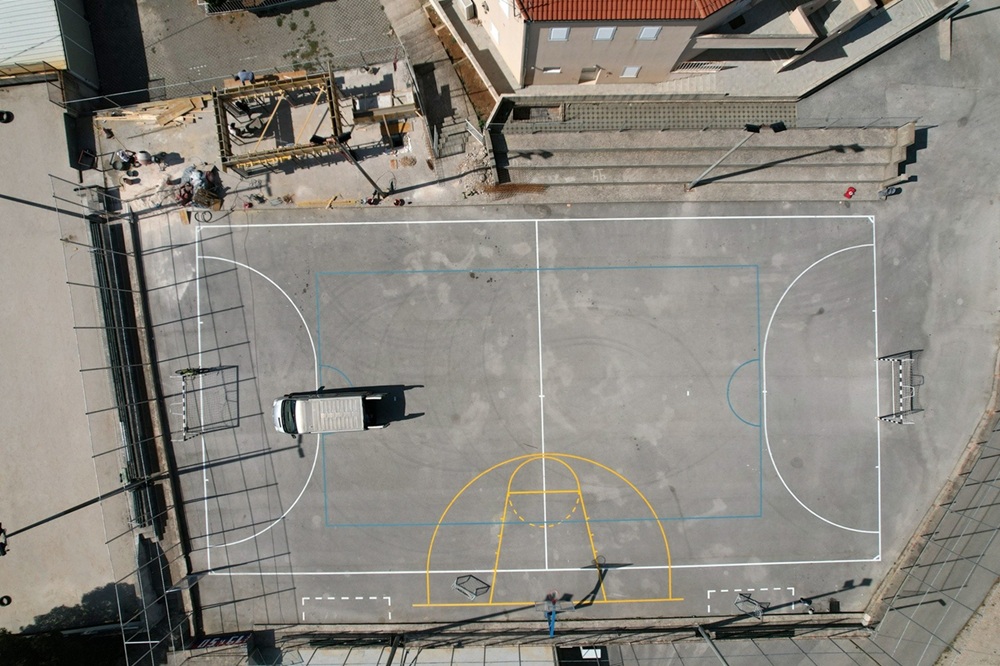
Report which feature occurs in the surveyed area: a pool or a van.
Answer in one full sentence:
There is a van in the scene.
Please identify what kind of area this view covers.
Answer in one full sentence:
The area seen from above is a sports ground.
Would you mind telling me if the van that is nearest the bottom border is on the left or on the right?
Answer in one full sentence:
The van that is nearest the bottom border is on the left side of the image.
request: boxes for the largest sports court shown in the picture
[192,211,884,620]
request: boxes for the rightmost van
[271,389,390,439]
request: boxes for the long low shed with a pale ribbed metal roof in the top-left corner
[0,0,99,90]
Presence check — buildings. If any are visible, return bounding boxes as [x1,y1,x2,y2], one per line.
[0,0,99,90]
[471,0,802,94]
